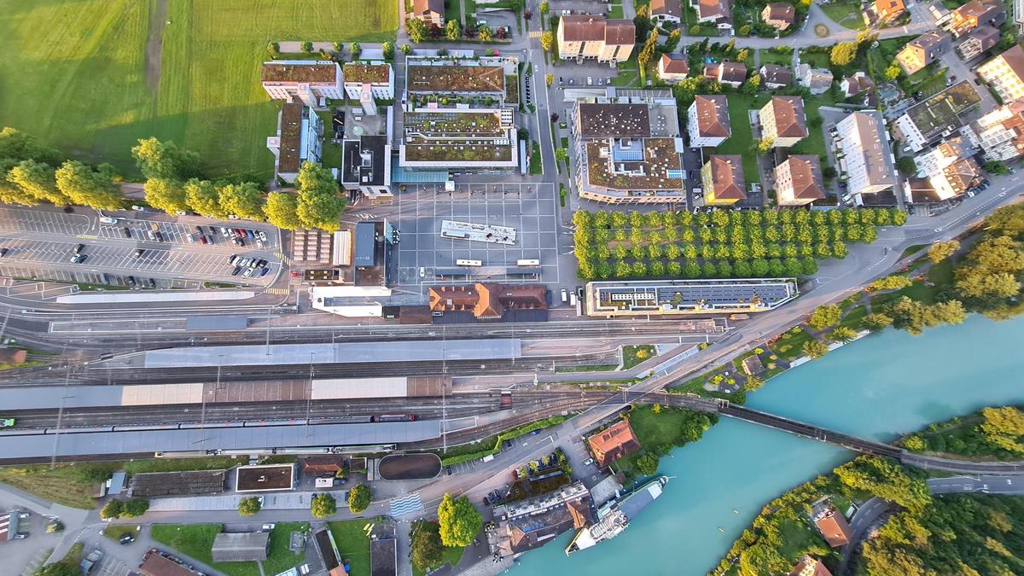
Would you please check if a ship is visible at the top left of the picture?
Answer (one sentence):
No, there is no ship at the top left of the picture.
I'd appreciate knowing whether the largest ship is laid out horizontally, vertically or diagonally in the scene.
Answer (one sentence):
What the image shows is the largest ship lying diagonally.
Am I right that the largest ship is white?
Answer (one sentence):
Yes, the largest ship is indeed white.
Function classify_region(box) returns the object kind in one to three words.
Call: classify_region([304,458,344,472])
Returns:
house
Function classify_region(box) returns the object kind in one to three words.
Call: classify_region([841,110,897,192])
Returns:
building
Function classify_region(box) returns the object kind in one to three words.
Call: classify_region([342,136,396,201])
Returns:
building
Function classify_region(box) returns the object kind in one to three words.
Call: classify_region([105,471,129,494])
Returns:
shed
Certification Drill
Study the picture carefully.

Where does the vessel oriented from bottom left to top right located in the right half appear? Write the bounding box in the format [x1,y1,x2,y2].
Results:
[566,476,673,554]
